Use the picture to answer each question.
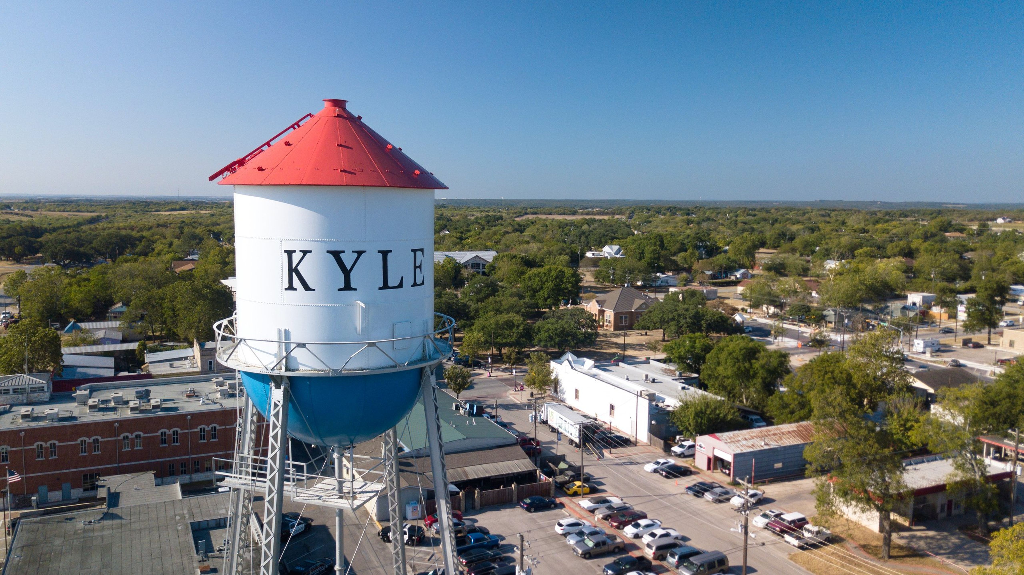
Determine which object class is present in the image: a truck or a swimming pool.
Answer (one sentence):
The one in the frame is a truck.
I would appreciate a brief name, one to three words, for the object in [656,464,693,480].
car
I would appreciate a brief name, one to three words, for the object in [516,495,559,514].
car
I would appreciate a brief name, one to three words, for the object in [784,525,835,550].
truck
